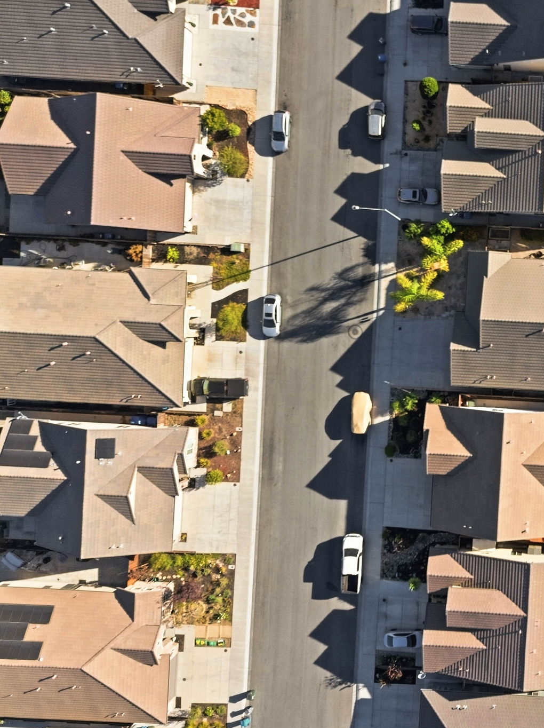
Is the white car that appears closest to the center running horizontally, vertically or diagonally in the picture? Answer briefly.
vertically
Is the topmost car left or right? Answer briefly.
right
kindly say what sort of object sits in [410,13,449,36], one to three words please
car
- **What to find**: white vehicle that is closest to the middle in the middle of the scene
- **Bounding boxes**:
[261,295,284,337]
